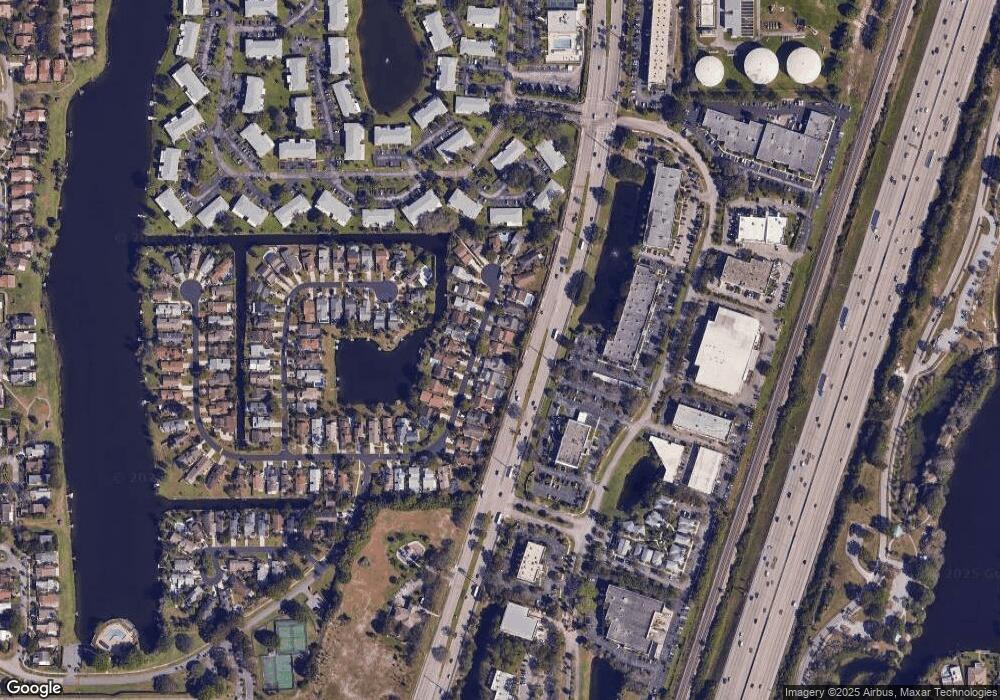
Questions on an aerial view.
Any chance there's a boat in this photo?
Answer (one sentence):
No, the scene contains no boat.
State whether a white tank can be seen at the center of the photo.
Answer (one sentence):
No, looking at the center of the photo, there is no white tank.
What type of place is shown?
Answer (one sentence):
This looks like a residential area.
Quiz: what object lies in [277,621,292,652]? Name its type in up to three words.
tennis court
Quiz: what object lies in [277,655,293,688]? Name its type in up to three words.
tennis court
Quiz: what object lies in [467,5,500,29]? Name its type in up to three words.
building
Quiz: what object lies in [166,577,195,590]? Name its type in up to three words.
house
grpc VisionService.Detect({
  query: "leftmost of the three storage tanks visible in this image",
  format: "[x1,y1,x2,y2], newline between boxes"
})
[695,56,726,86]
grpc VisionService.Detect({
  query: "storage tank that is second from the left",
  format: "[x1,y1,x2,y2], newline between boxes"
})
[743,46,780,83]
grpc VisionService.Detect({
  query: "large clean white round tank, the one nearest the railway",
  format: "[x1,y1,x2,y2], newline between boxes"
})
[786,46,823,83]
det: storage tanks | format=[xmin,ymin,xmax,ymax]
[743,46,780,83]
[695,56,726,86]
[786,46,823,83]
